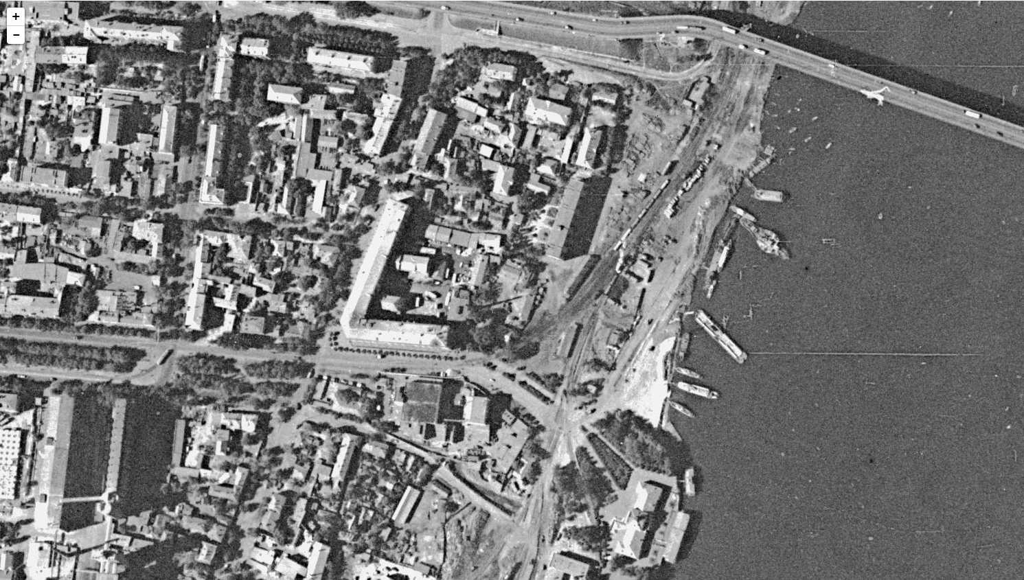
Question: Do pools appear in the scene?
No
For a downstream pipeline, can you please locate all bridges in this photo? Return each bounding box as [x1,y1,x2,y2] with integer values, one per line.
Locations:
[719,24,1024,149]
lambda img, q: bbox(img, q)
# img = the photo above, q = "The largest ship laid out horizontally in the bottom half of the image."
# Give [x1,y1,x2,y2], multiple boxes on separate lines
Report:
[677,383,719,399]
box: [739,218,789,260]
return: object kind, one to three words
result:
ship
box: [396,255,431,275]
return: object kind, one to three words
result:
house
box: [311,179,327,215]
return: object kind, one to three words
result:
building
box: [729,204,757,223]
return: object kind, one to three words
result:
boat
